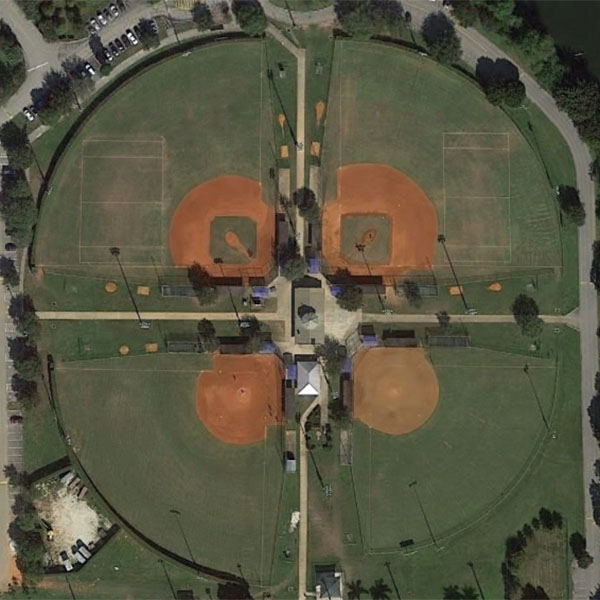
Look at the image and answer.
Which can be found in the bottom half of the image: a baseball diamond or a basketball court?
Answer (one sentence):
The one visible in the bottom half of the image is a baseball diamond.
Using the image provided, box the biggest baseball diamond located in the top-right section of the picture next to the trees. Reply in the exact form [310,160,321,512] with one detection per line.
[320,39,562,284]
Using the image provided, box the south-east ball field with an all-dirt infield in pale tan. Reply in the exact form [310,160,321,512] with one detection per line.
[351,346,557,553]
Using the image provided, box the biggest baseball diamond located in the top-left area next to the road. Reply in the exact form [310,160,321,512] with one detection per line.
[33,39,278,284]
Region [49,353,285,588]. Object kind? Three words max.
baseball field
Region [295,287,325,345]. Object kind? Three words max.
building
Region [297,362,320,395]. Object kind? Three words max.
building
